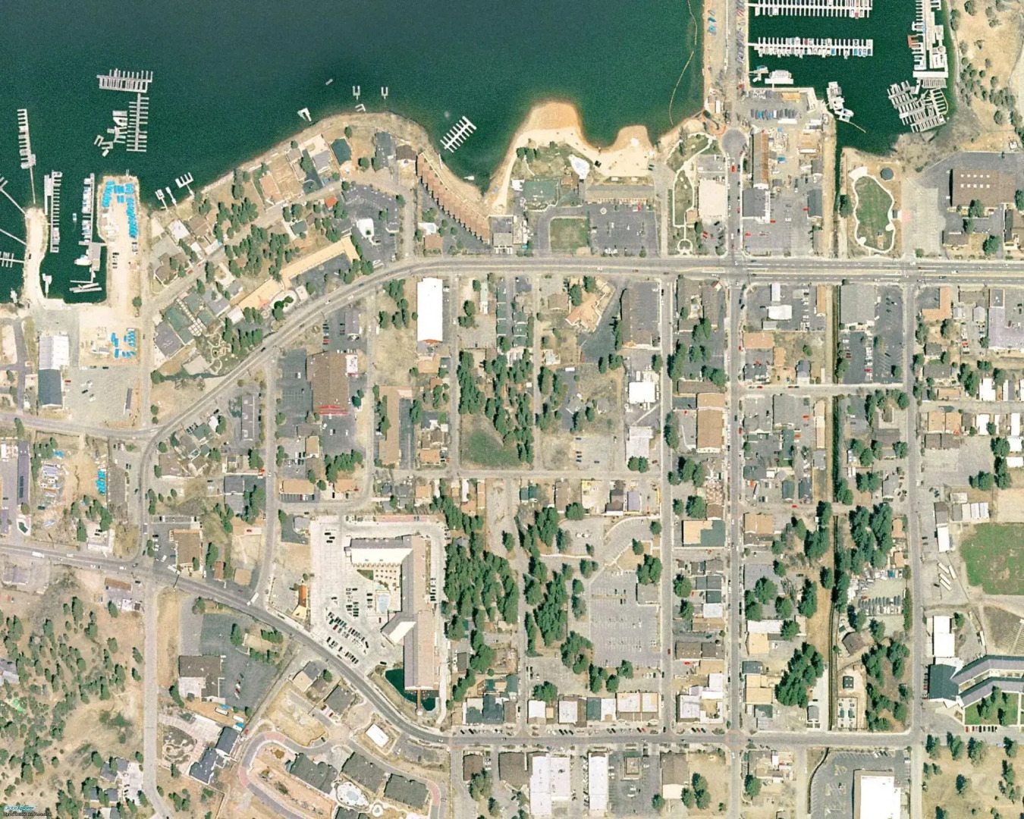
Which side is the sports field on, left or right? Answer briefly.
right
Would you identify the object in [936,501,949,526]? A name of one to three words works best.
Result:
building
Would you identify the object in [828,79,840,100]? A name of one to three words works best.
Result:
boat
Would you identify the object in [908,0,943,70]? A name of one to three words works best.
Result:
pier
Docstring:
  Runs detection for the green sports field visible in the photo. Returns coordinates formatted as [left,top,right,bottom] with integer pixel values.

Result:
[961,522,1024,596]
